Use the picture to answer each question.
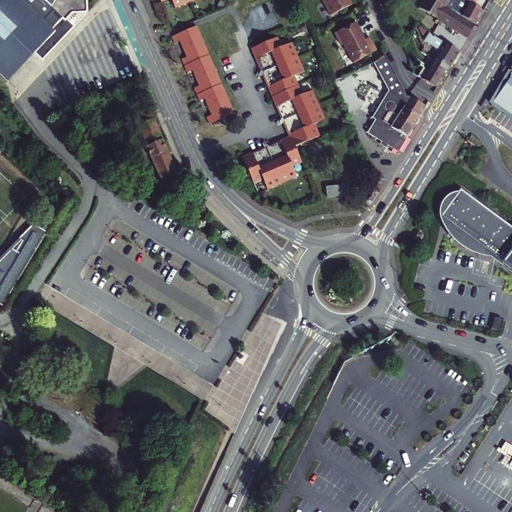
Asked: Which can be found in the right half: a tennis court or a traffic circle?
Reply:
traffic circle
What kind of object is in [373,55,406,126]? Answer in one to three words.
building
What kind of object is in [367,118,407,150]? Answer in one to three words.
building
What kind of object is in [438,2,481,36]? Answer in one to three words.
house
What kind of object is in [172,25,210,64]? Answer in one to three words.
house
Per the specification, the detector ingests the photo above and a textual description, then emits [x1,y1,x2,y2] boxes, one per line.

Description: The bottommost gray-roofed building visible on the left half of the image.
[0,226,46,306]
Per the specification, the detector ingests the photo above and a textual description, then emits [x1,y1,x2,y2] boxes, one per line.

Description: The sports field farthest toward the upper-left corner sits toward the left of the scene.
[0,152,42,251]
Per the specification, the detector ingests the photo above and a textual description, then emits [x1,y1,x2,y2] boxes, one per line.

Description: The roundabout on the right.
[292,232,395,334]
